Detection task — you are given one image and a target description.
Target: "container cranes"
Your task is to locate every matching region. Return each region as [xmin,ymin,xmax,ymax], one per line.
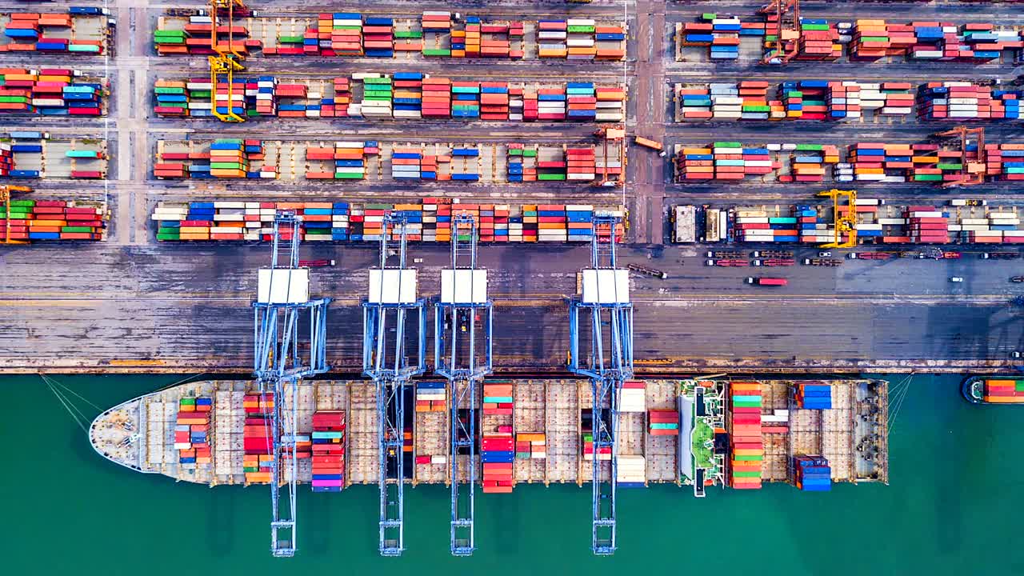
[758,0,799,69]
[360,203,437,558]
[210,56,250,126]
[558,204,637,557]
[812,190,855,251]
[0,186,40,249]
[250,203,343,559]
[935,127,988,191]
[432,203,503,558]
[211,0,251,64]
[594,124,625,190]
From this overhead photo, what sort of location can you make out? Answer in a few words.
port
